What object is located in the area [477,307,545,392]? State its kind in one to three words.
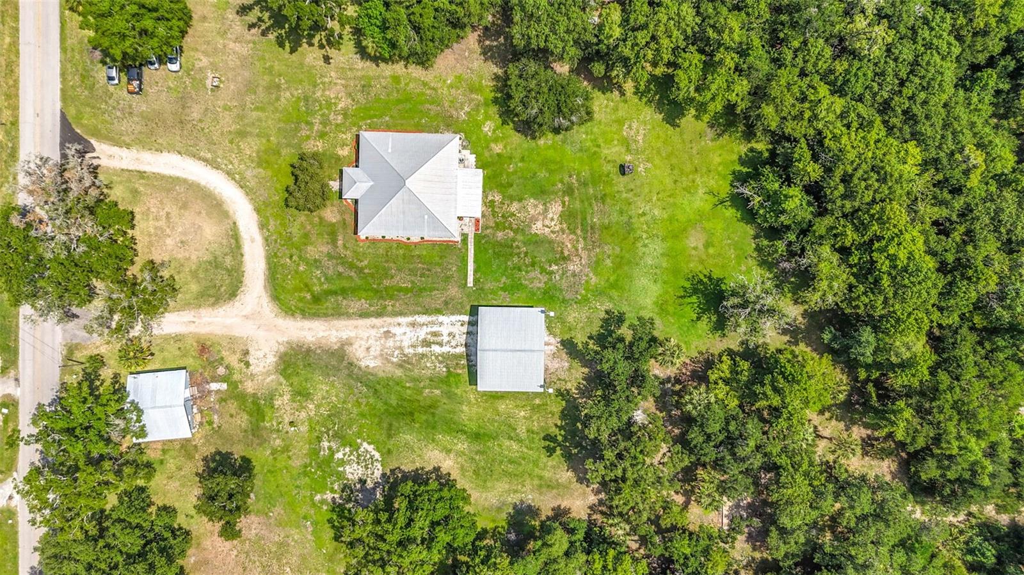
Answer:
barn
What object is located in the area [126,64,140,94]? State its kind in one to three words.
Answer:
vehicle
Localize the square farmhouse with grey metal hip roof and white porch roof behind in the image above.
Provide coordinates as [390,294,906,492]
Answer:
[342,131,484,238]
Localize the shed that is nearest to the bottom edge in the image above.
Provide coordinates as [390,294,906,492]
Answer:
[124,367,199,443]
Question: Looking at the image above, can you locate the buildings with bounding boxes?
[124,367,199,443]
[342,131,484,238]
[477,307,545,392]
